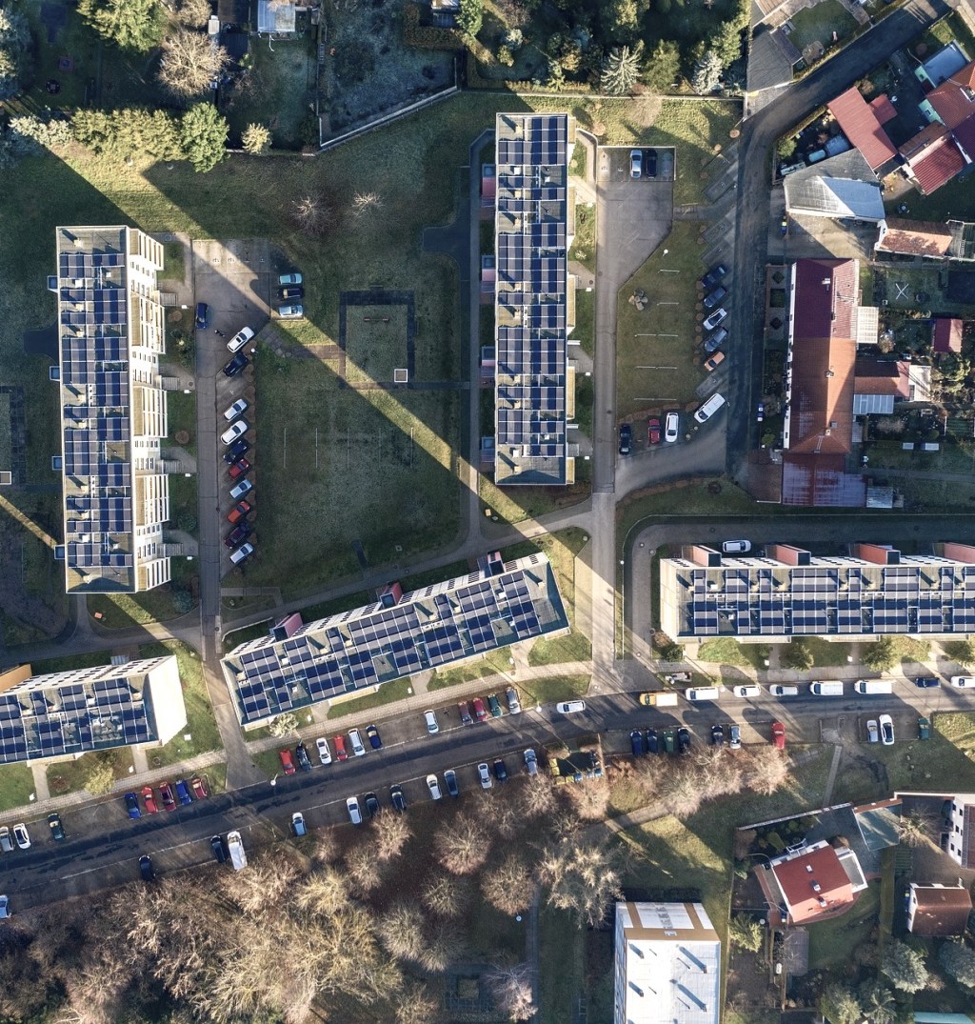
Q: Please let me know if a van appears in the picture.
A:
Yes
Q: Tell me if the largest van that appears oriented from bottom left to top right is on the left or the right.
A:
right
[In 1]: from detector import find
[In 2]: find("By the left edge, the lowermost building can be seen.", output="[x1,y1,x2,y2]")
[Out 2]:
[0,655,184,772]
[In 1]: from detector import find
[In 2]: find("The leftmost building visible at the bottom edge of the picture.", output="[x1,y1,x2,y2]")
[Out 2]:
[616,903,721,1024]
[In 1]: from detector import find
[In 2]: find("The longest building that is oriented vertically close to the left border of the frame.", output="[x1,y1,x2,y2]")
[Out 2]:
[46,224,186,593]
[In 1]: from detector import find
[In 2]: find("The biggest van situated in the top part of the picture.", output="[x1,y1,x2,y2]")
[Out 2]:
[691,391,728,426]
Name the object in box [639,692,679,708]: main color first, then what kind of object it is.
white vehicle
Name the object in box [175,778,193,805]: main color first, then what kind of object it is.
blue car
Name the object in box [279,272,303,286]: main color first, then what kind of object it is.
blue car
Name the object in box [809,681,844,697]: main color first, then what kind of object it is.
white vehicle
